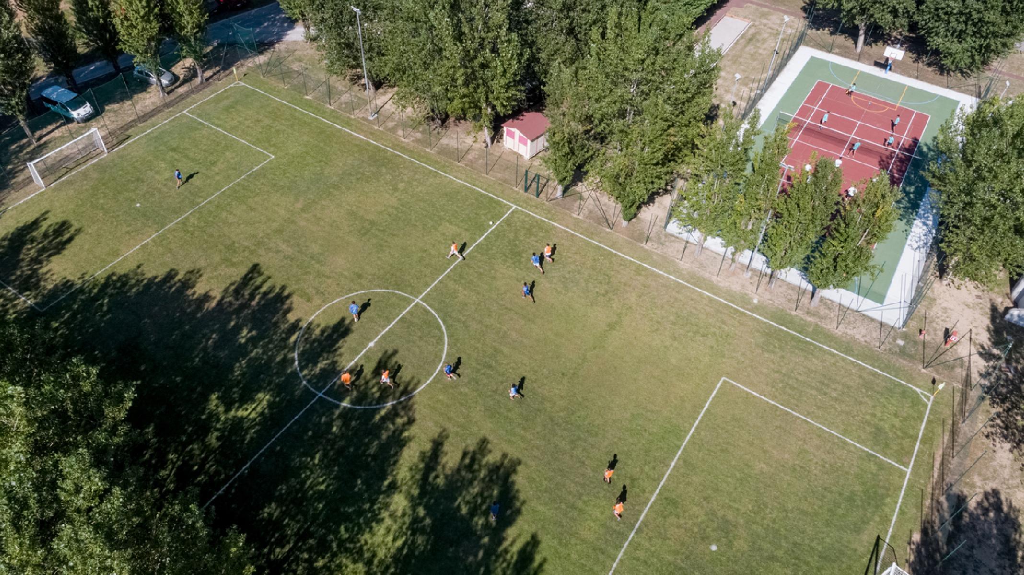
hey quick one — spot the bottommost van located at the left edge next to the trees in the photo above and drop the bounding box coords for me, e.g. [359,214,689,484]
[38,81,90,120]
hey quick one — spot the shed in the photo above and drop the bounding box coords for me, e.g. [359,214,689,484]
[501,113,549,158]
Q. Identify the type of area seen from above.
sports ground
